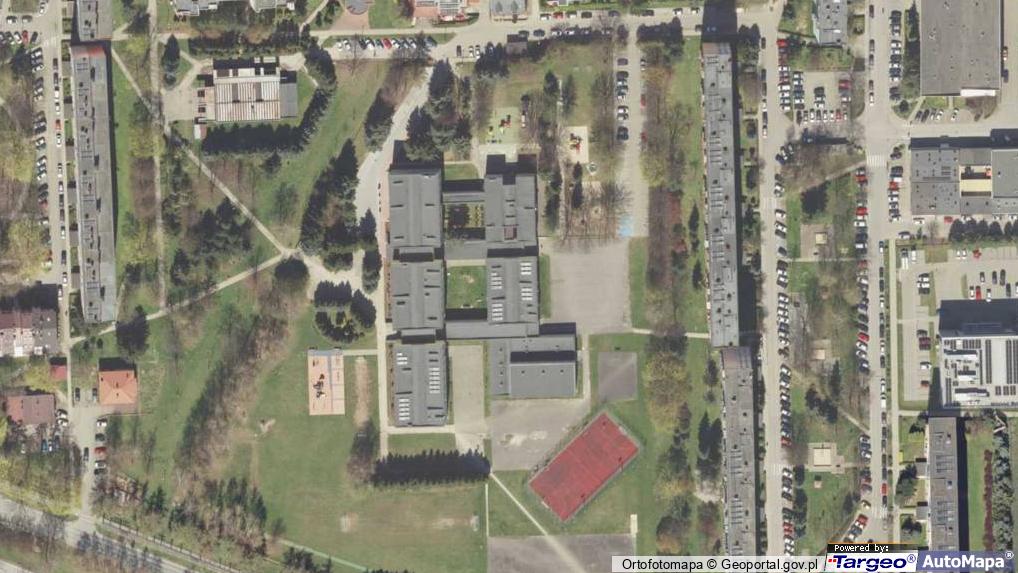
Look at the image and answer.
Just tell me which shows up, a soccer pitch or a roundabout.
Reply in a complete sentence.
This aerial view contains a soccer pitch.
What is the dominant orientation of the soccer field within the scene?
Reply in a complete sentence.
The soccer field runs from left to right in the image.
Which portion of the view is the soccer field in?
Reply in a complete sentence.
The soccer field is in the bottom part of the image.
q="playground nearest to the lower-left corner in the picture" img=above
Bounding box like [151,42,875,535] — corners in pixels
[308,350,345,415]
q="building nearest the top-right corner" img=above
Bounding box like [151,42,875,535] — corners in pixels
[921,0,1000,96]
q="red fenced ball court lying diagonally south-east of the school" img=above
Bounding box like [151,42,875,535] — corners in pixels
[527,410,641,525]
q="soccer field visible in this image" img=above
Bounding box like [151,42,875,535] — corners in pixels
[341,499,481,547]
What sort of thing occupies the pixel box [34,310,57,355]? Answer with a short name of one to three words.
house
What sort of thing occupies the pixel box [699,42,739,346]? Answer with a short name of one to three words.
building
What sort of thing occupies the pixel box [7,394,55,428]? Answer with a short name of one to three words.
house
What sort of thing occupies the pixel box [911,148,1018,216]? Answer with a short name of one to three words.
building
